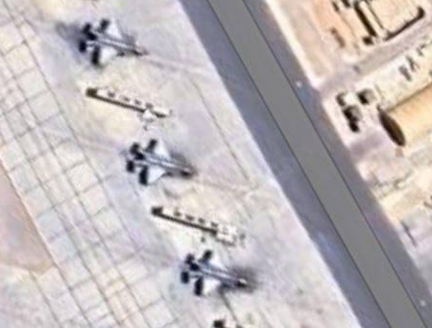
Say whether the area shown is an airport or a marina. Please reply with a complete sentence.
This image shows an airport.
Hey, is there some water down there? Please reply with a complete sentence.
No, the scene doesn't show any water.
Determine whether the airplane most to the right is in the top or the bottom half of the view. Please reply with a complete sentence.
The airplane most to the right sits in the bottom half of the picture.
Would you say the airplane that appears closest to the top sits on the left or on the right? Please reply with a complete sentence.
The airplane that appears closest to the top appears in the left half of the scene.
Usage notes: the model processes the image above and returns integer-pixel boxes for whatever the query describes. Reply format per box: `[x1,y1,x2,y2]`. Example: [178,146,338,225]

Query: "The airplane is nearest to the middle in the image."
[136,142,197,184]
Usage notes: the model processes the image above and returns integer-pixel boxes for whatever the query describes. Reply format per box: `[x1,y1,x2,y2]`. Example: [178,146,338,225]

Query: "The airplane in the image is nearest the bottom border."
[190,253,252,295]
